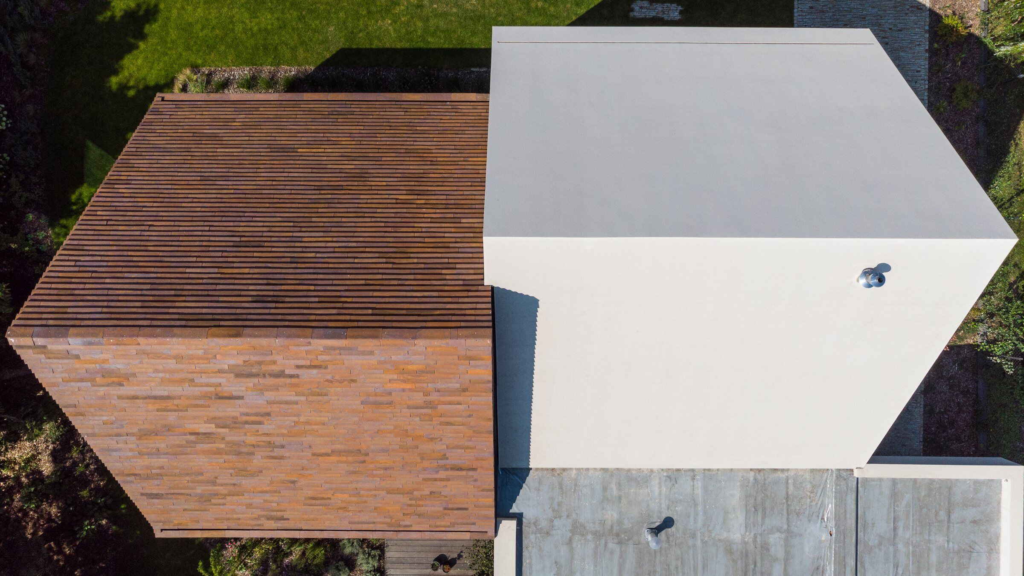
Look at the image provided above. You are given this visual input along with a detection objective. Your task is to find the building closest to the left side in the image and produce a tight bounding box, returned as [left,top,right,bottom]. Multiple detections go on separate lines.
[7,92,499,538]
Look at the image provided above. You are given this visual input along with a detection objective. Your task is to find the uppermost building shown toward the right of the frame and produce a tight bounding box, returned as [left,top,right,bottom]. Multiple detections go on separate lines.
[483,27,1018,469]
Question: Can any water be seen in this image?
No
